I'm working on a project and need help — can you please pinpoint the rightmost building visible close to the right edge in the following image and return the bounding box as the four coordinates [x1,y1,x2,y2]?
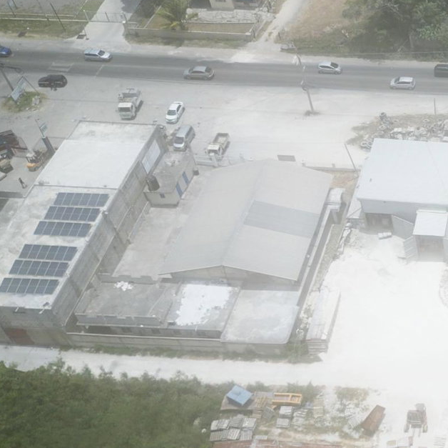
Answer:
[340,139,448,252]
